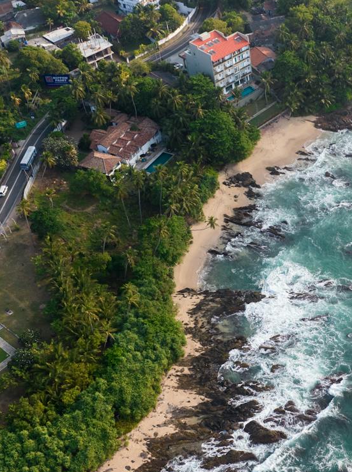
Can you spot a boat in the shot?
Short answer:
No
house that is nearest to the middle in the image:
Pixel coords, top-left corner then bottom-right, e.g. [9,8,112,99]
[76,116,182,177]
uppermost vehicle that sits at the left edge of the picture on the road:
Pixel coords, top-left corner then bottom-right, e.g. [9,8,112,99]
[16,143,36,171]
